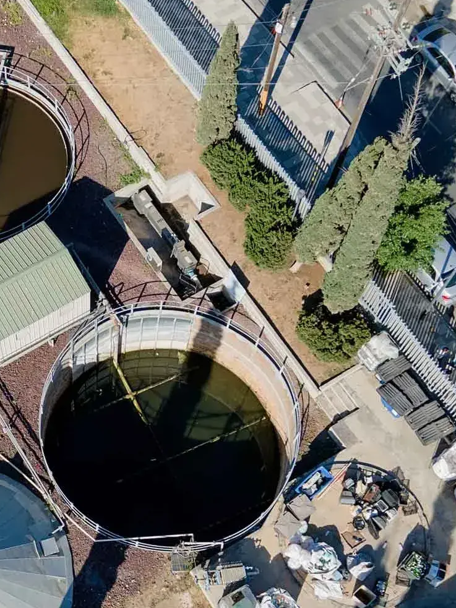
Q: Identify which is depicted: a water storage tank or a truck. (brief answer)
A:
water storage tank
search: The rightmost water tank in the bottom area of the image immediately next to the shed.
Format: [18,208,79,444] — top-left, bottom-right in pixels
[39,301,299,555]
